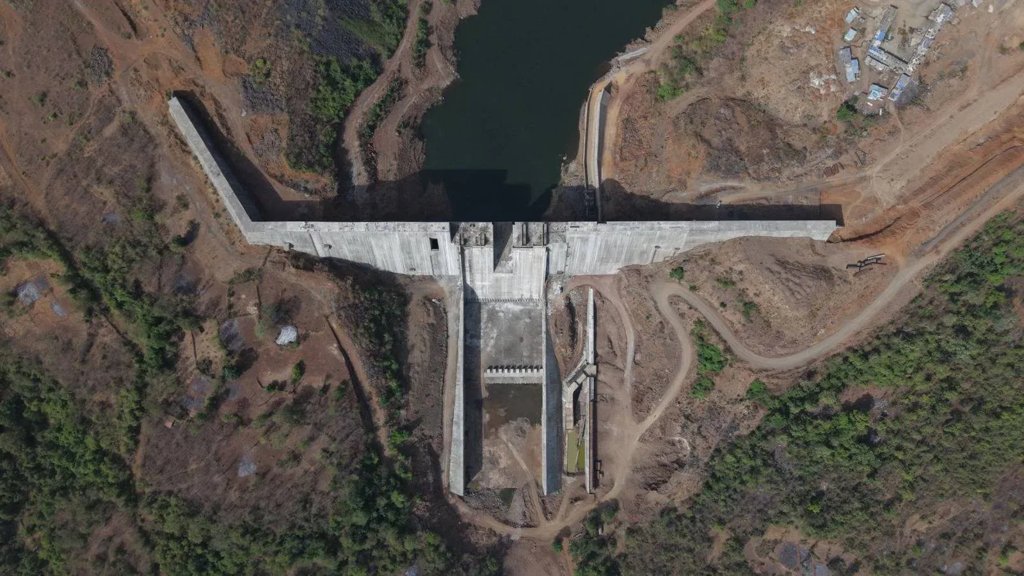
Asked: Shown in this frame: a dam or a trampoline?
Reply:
dam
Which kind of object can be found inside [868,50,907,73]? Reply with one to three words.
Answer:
shed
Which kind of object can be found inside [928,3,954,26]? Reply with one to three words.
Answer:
shed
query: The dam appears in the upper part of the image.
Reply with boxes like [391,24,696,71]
[167,97,836,300]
